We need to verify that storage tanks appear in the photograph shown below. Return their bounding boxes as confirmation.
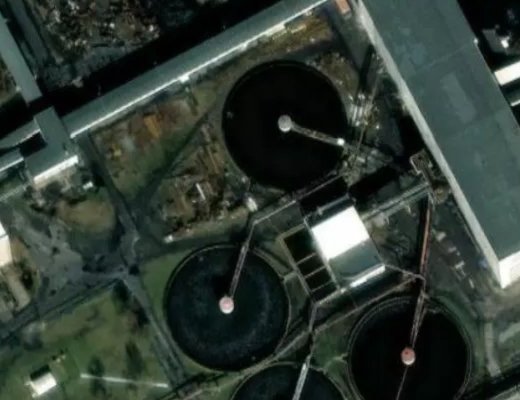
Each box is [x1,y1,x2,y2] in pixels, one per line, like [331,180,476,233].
[347,295,471,400]
[222,65,347,190]
[165,240,289,369]
[232,361,347,400]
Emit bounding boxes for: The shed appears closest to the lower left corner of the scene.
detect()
[29,371,57,396]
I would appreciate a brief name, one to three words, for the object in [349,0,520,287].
building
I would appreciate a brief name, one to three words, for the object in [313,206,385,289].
building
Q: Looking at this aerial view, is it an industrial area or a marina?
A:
industrial area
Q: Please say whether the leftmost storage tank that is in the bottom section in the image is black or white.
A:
black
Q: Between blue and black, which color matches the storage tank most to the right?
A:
black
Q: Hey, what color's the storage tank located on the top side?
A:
black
